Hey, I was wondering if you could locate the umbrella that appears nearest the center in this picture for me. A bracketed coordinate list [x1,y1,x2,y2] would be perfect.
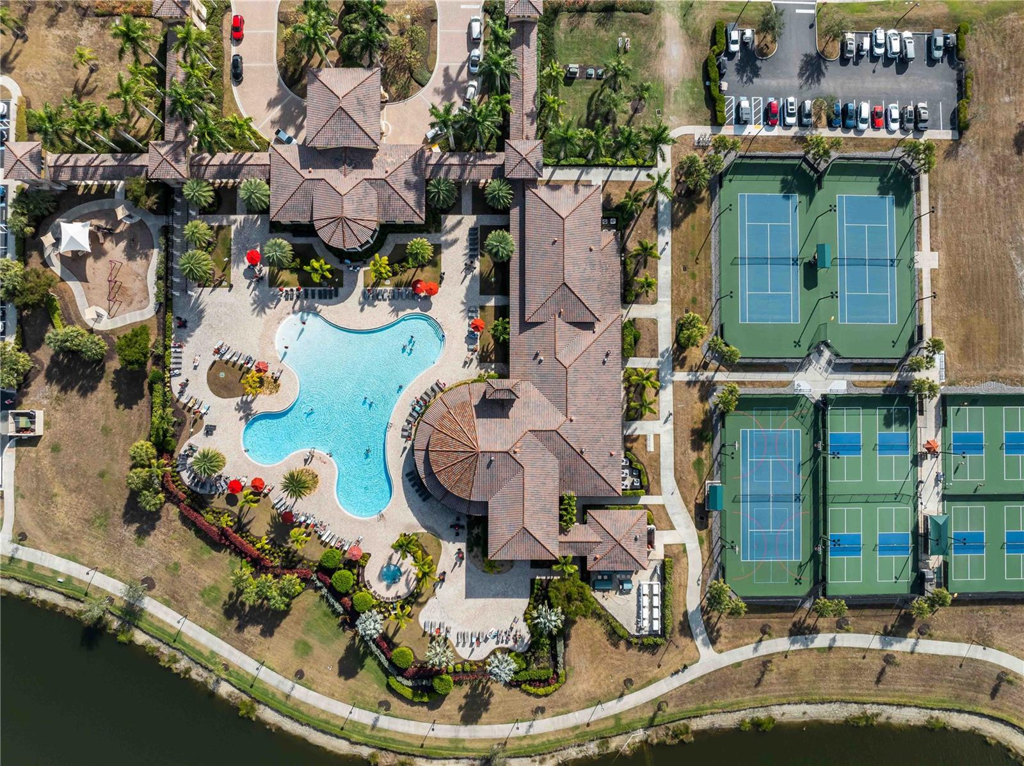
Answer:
[470,318,485,333]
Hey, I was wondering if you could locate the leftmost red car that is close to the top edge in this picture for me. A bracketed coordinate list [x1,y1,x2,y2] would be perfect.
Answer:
[231,14,245,41]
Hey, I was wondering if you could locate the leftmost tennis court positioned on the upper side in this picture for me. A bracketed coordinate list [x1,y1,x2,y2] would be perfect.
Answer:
[721,158,818,357]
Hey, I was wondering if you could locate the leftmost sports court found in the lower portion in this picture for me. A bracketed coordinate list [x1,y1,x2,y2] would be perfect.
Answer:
[723,395,820,596]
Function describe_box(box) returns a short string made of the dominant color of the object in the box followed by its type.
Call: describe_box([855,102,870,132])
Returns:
white car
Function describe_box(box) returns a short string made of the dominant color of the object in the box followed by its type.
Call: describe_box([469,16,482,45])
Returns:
white vehicle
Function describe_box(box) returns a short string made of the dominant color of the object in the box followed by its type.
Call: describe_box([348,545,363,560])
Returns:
red umbrella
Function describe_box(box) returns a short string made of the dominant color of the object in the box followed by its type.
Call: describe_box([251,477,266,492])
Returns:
red umbrella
